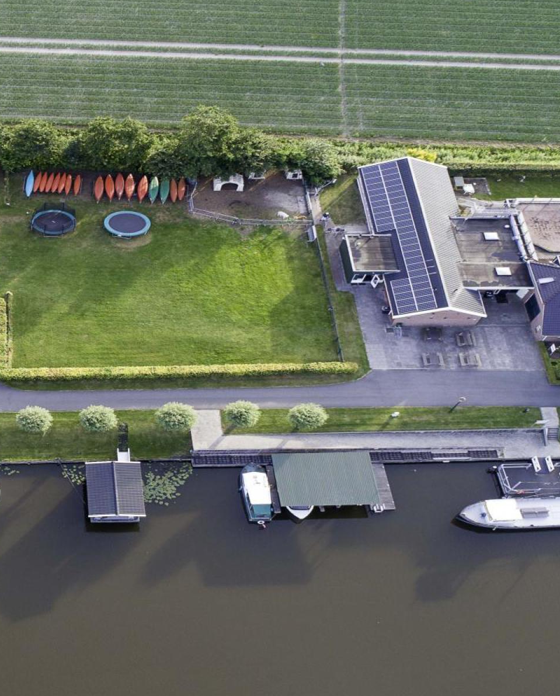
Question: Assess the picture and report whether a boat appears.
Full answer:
Yes, a boat appears in the view.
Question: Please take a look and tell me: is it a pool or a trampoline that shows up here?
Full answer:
The one in the frame is a trampoline.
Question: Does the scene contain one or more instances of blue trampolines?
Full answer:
Yes, you can see a blue trampoline in this photo.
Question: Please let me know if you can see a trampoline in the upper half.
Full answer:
Yes, a trampoline can be seen in the upper half.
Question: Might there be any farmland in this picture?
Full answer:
Yes, there is farmland in the image.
